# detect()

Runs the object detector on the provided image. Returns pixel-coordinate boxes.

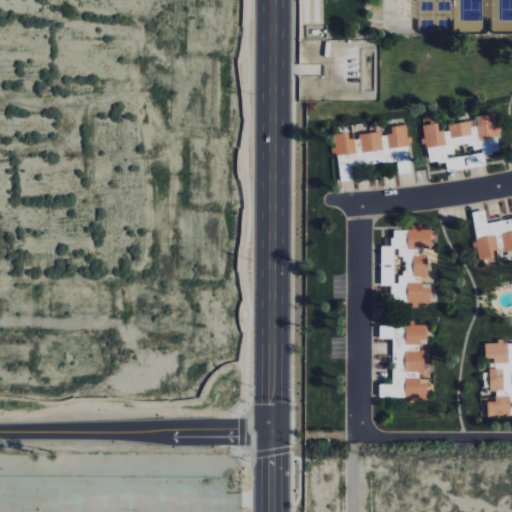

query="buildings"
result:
[486,340,512,417]
[380,320,428,403]
[422,115,502,172]
[382,230,432,308]
[332,124,413,182]
[473,210,512,262]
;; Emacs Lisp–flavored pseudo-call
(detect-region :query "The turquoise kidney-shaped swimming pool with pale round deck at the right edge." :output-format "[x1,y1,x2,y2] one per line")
[492,285,512,318]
